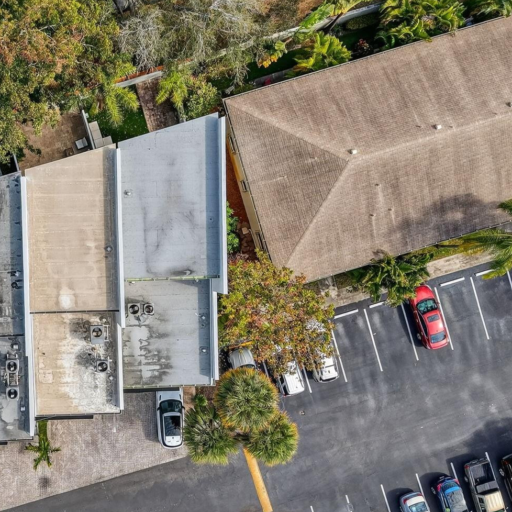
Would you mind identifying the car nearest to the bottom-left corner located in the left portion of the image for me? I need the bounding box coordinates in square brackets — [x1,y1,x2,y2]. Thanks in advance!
[152,394,184,449]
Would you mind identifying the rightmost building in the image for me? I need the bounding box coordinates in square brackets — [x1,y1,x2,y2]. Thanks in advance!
[221,13,512,292]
